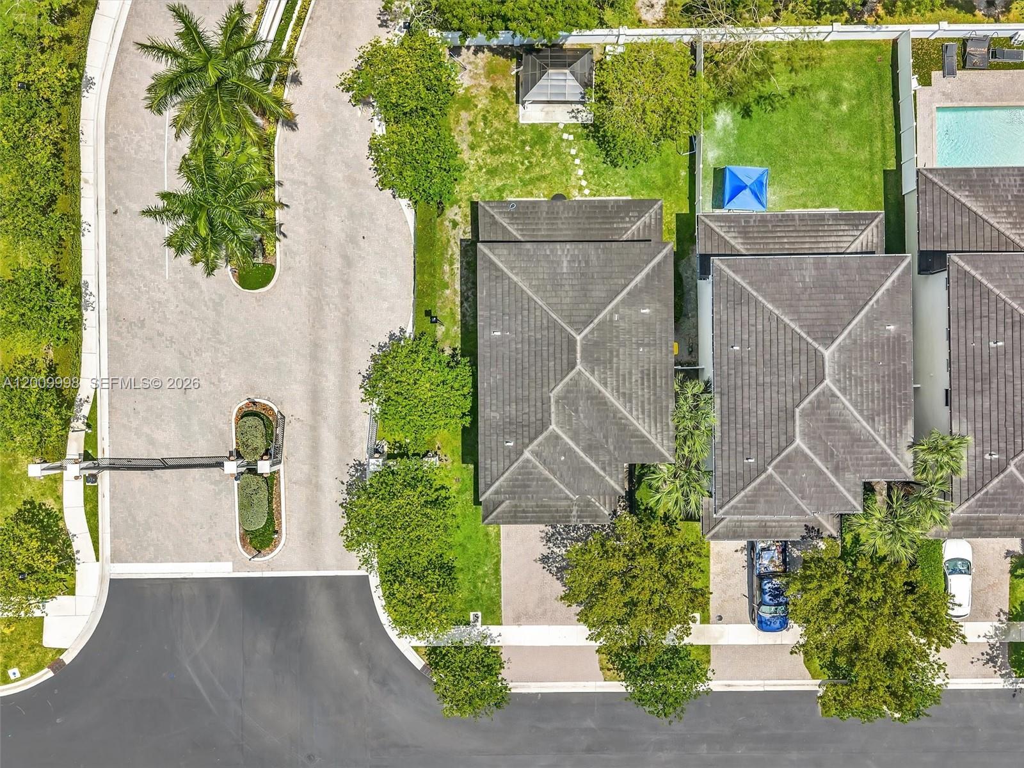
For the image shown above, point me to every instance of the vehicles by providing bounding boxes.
[753,541,797,634]
[937,540,978,619]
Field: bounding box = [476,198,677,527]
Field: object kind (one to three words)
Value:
house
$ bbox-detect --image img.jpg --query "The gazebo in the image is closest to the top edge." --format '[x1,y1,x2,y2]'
[523,48,594,114]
